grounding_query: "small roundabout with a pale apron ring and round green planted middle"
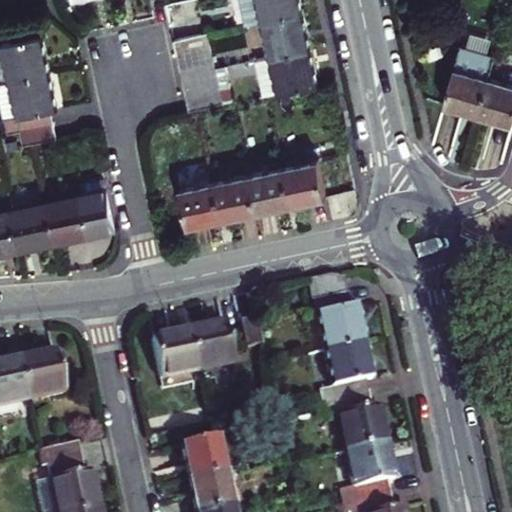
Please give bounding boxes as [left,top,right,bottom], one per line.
[366,174,470,290]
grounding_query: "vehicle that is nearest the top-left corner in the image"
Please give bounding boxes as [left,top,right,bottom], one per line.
[88,40,100,60]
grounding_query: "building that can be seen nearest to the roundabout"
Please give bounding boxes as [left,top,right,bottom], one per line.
[326,190,358,221]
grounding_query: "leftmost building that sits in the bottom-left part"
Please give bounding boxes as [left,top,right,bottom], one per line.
[0,352,36,406]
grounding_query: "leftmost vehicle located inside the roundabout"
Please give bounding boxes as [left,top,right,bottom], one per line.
[414,238,448,257]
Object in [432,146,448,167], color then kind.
white car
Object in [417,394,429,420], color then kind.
red vehicle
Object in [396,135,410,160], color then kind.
white vehicle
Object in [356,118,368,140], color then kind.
white vehicle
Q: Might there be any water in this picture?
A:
No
